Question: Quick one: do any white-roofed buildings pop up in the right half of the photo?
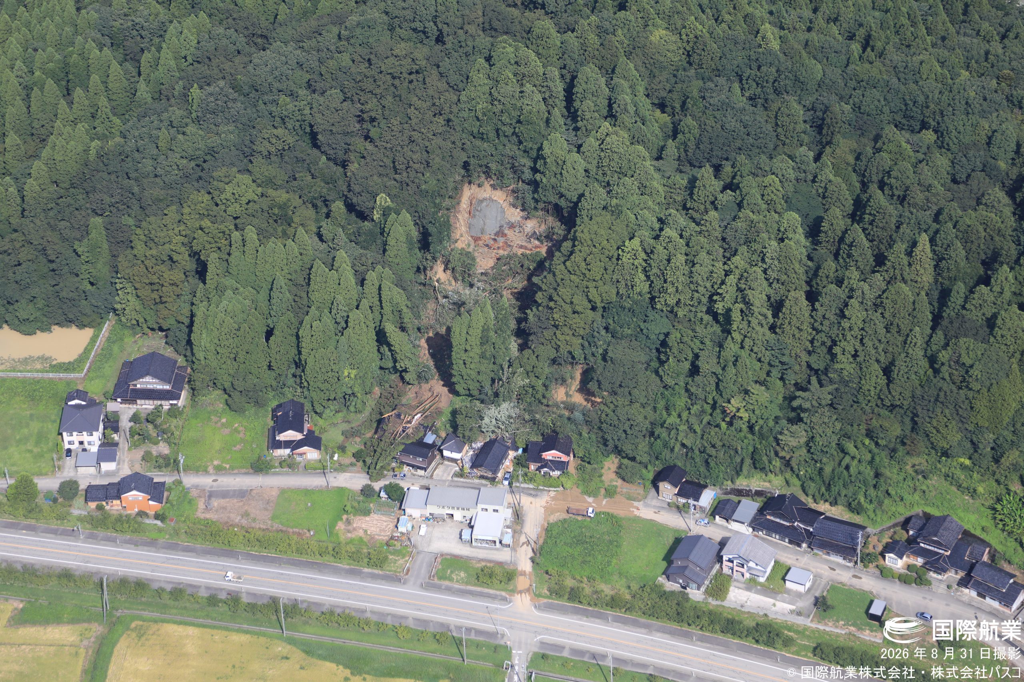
Yes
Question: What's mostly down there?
trees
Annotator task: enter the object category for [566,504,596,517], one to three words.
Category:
vehicle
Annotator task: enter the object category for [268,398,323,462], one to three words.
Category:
house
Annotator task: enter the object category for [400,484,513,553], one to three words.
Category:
building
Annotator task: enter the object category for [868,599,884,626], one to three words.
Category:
shed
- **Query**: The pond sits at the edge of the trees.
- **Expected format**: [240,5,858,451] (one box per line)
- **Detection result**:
[0,320,93,369]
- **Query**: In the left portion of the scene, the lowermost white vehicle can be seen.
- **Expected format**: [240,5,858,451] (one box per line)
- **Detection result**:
[225,570,246,583]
